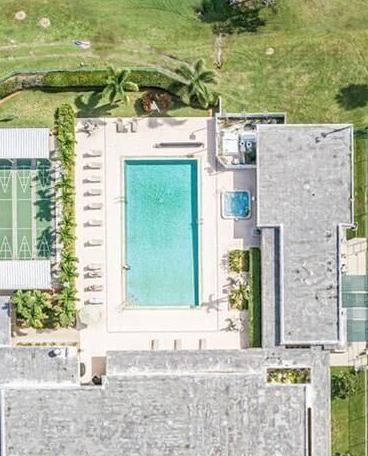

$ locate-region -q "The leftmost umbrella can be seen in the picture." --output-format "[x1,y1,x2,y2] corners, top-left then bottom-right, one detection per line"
[78,304,97,323]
